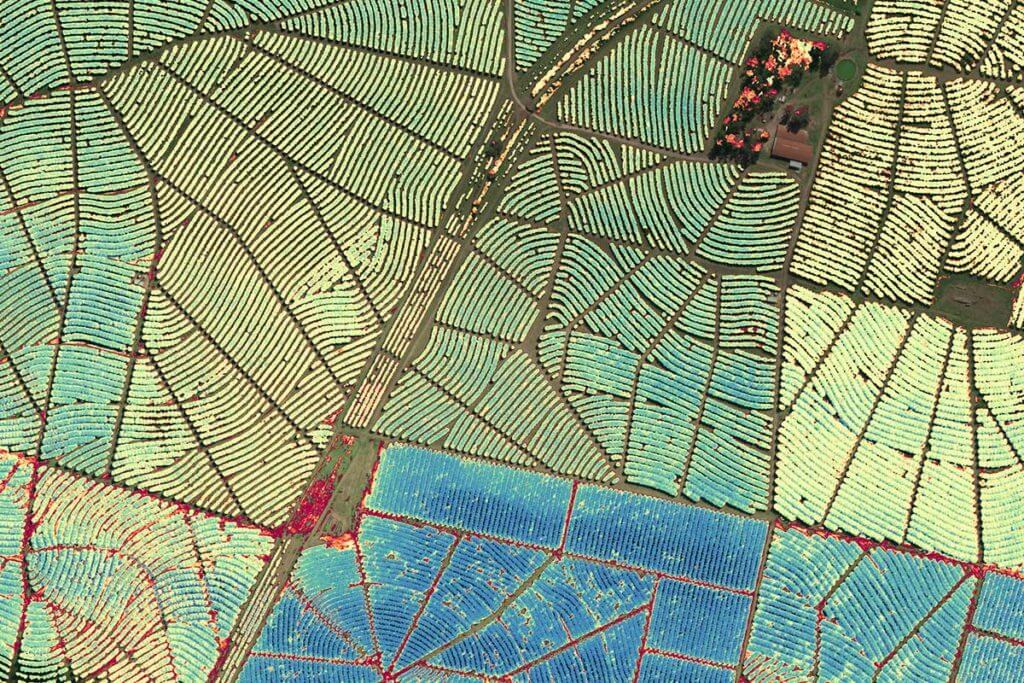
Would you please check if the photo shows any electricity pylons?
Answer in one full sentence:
No, I can see no electricity pylon in this picture.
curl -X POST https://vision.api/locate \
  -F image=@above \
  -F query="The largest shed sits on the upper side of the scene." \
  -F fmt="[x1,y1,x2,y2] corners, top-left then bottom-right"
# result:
[772,124,813,165]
